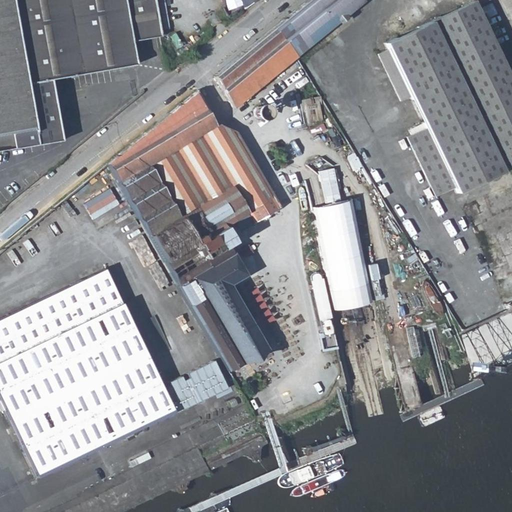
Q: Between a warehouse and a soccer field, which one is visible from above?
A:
warehouse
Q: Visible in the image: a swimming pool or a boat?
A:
boat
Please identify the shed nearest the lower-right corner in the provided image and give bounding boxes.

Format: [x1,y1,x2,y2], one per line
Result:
[406,325,426,358]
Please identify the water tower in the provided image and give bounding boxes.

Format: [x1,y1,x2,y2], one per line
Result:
[254,104,277,120]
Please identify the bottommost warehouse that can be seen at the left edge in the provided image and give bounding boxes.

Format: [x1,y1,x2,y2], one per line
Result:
[0,268,178,478]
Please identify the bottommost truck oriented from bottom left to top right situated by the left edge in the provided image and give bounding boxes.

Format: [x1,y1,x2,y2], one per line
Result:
[0,210,34,242]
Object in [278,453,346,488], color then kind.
white boat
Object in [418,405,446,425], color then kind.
white boat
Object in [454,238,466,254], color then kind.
white vehicle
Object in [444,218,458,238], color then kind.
white vehicle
